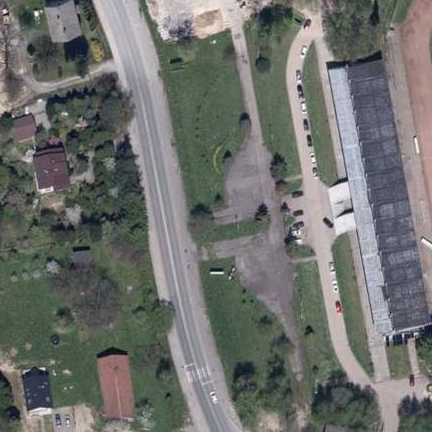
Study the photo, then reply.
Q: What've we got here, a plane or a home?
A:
home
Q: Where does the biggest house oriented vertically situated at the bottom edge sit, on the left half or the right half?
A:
left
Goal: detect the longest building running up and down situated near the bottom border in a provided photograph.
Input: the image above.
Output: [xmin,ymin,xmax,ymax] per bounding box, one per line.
[98,355,134,421]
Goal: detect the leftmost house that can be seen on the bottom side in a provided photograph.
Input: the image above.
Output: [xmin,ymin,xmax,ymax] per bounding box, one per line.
[23,371,52,412]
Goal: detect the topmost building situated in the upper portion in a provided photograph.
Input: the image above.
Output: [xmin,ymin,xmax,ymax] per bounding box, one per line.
[45,0,81,46]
